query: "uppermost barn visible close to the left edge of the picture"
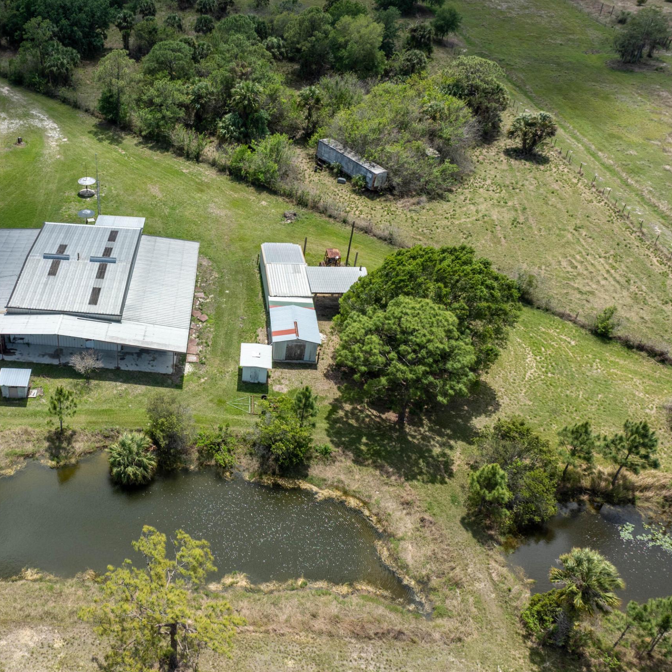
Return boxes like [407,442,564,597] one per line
[0,217,201,374]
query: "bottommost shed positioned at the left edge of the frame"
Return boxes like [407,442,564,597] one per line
[0,365,32,399]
